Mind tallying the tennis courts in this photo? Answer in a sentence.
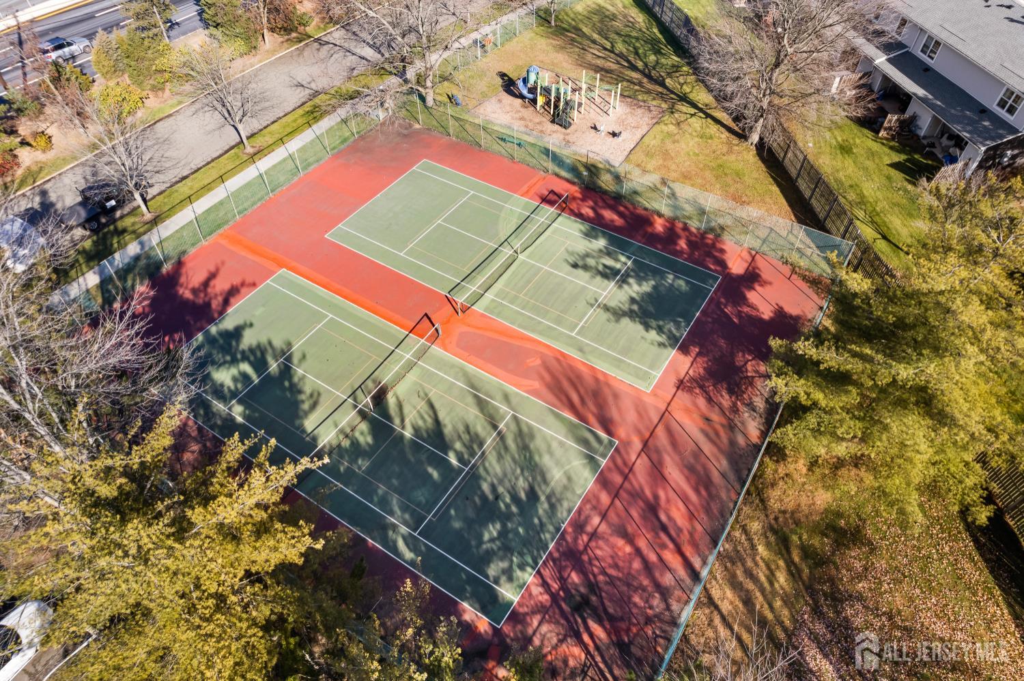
There are 2 tennis courts in the image.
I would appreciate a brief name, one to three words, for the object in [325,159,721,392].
tennis court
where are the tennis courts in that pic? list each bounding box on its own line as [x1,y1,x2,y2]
[325,159,721,392]
[138,268,617,628]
